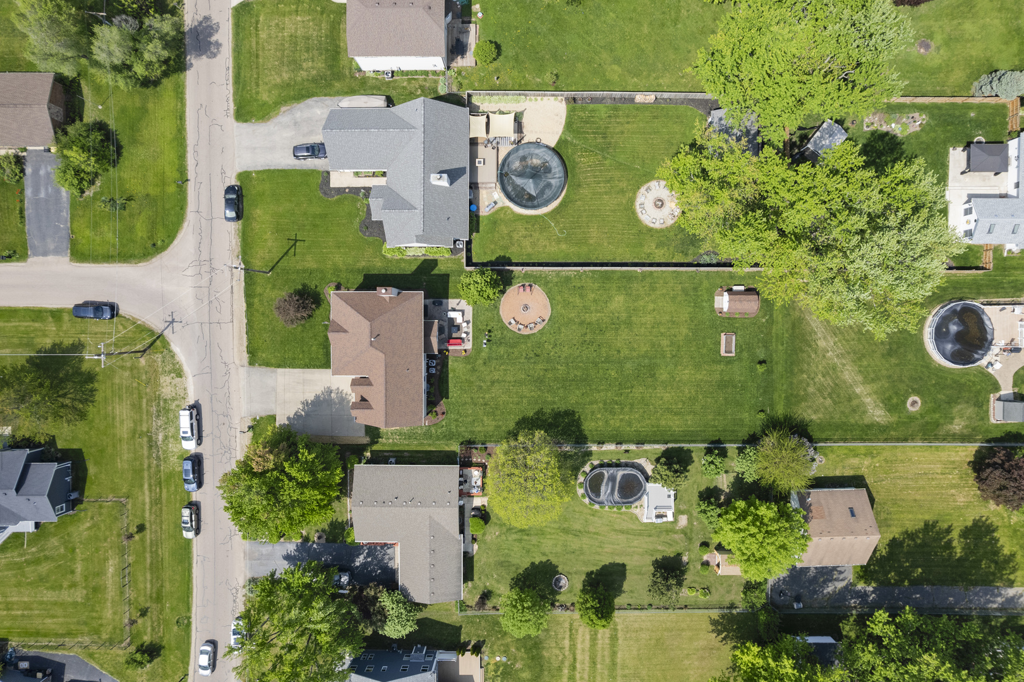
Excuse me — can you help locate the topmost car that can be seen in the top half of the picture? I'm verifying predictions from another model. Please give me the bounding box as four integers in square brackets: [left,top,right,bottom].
[293,142,328,160]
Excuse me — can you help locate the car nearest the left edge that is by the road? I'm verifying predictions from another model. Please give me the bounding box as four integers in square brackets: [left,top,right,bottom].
[72,301,120,320]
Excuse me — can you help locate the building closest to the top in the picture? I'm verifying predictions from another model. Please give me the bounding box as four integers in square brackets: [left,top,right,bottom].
[345,0,445,69]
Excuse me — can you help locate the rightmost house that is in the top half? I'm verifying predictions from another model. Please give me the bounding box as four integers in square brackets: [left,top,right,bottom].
[961,130,1024,266]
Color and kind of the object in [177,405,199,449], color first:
white car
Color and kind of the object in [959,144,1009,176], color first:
gray gazebo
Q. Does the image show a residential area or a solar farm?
residential area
